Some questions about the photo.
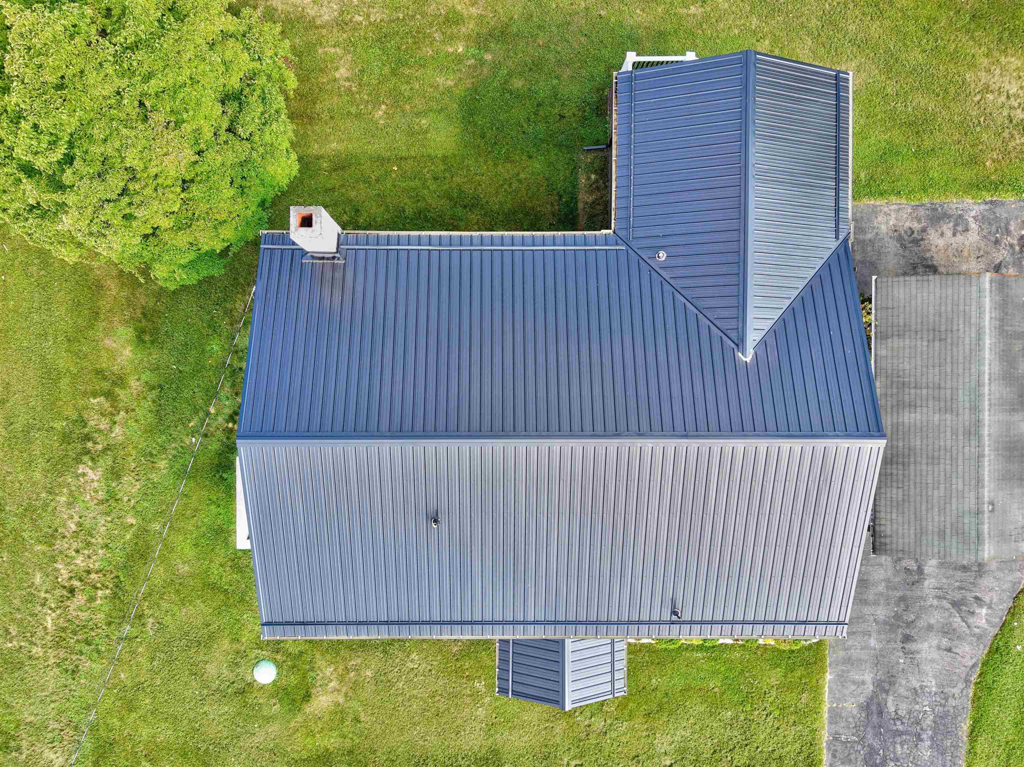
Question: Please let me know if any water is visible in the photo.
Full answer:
No, no water is visible.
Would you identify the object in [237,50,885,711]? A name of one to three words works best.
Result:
house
